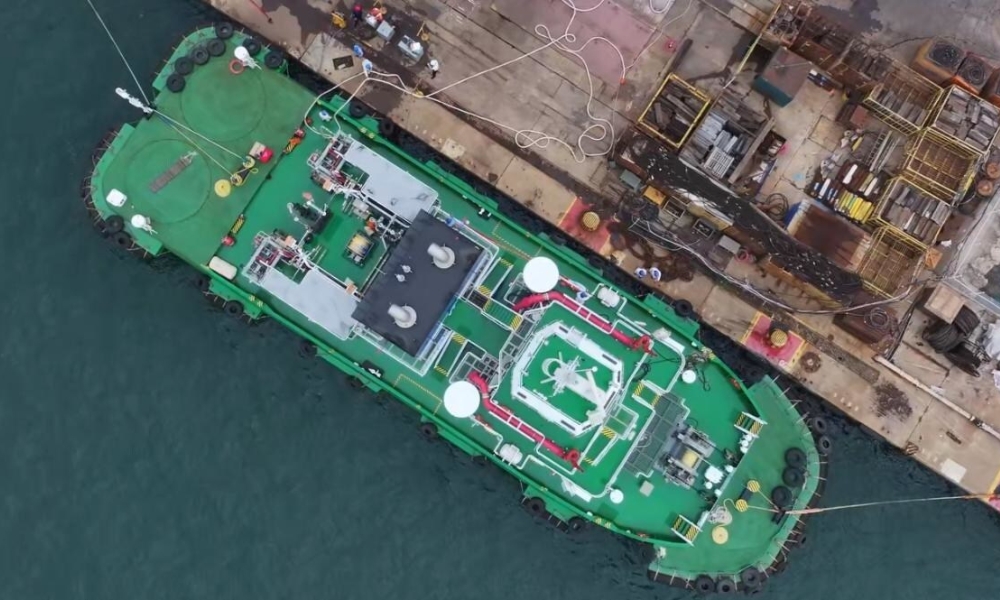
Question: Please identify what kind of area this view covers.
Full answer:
What you see here is a port.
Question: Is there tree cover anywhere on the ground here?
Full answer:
No, tree cover can't be seen anywhere here.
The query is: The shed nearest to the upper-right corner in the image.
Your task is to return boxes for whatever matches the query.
[759,47,812,104]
